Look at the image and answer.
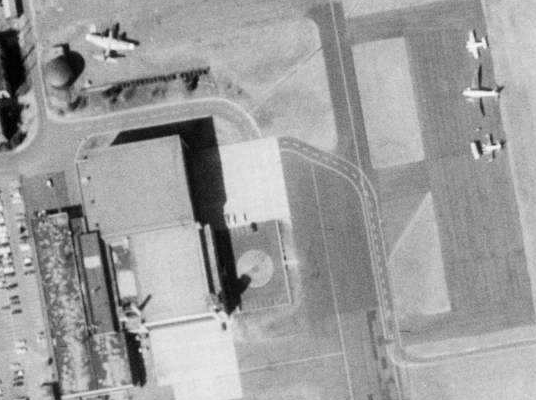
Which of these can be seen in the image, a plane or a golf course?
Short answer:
plane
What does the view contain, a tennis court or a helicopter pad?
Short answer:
helicopter pad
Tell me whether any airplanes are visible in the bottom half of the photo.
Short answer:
No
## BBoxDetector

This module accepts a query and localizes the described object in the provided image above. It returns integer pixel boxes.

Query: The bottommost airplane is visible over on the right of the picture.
[480,135,499,161]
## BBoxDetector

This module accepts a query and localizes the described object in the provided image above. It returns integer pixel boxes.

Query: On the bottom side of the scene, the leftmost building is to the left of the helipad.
[33,213,139,400]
